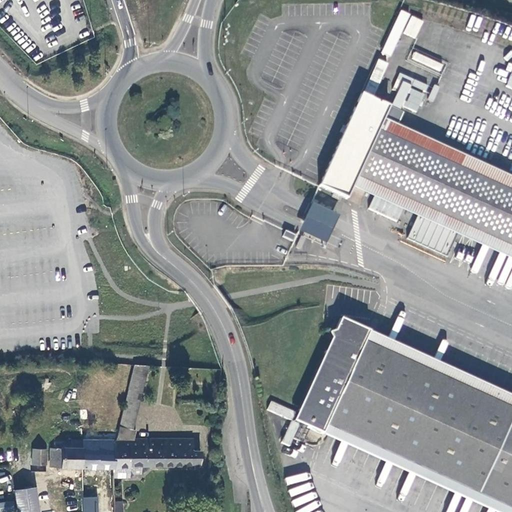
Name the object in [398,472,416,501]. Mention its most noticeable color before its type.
white vehicle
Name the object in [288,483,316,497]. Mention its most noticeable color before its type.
white vehicle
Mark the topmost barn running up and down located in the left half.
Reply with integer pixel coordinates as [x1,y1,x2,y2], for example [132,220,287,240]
[120,365,149,430]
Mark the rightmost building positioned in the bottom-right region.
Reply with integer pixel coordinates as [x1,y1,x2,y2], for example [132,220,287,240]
[294,316,512,512]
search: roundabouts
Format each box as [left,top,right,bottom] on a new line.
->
[98,54,232,188]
